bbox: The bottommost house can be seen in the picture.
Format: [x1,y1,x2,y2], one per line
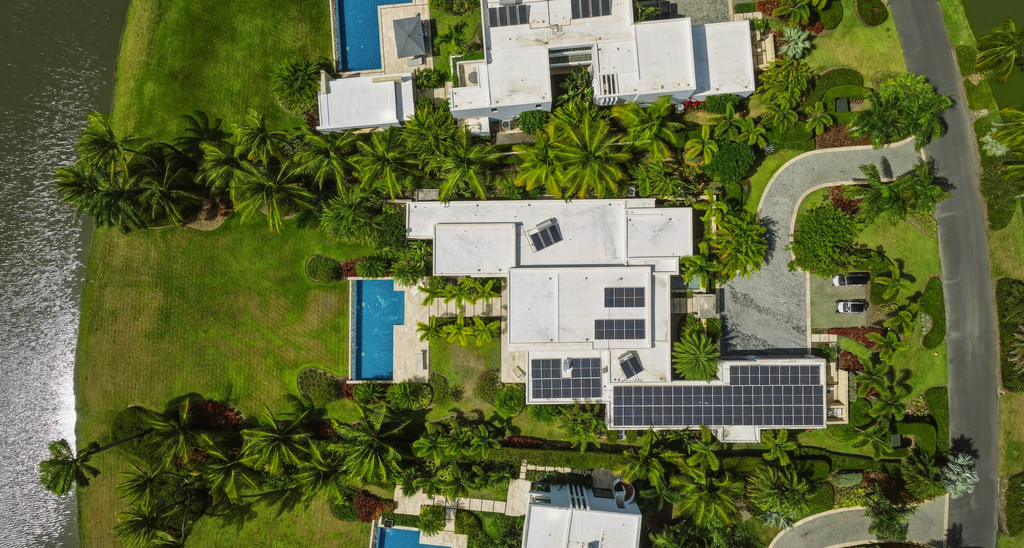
[517,472,642,548]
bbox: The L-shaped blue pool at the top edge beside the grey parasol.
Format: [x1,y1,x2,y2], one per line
[330,0,413,75]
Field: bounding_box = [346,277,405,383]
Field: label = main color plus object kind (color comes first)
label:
blue swimming pool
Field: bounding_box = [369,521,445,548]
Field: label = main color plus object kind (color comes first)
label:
blue swimming pool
